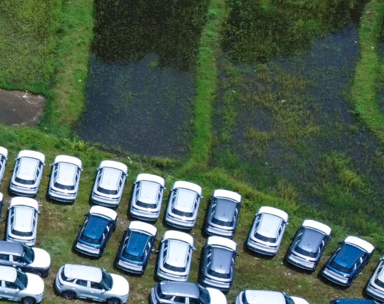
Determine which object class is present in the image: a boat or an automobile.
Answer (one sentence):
There is an automobile in the scene.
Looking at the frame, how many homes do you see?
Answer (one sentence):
There are no homes in this view.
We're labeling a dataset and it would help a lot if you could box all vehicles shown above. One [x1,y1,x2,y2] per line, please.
[0,241,54,278]
[7,199,40,247]
[238,289,310,304]
[154,282,227,304]
[248,205,289,257]
[11,150,46,197]
[49,156,83,203]
[92,160,129,209]
[58,265,129,304]
[158,231,194,283]
[323,237,374,288]
[205,188,243,239]
[0,147,9,190]
[368,257,384,303]
[289,221,331,273]
[130,174,166,222]
[76,208,119,258]
[202,237,240,291]
[0,266,45,304]
[166,181,203,230]
[118,222,156,275]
